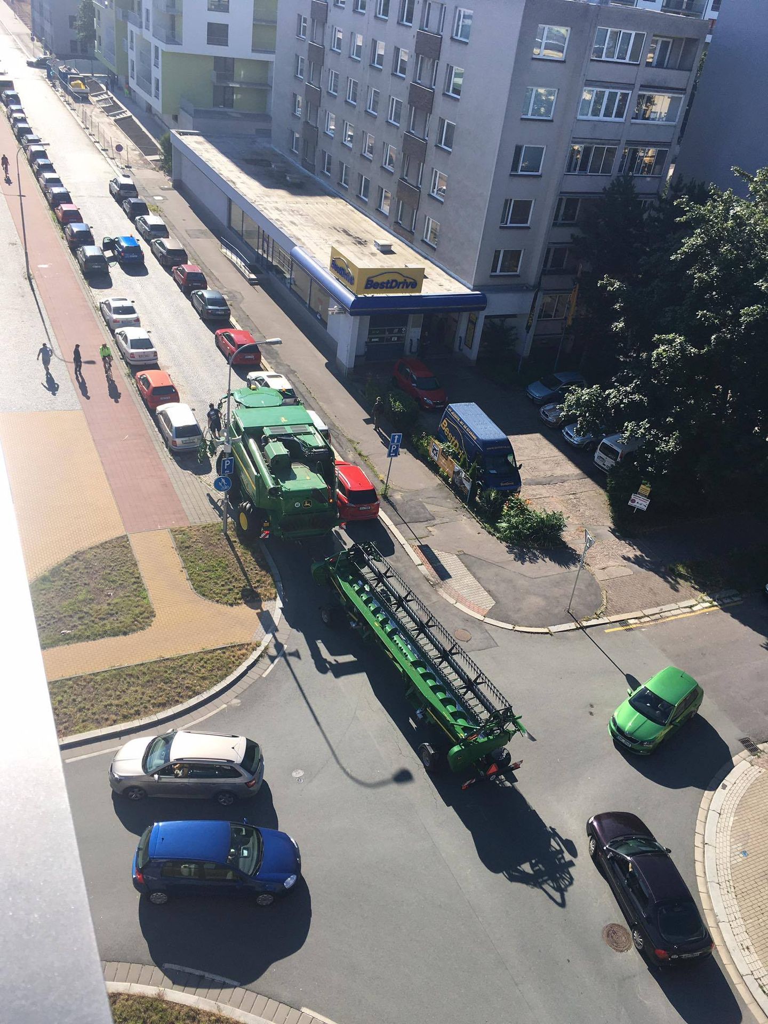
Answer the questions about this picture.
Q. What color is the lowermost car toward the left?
blue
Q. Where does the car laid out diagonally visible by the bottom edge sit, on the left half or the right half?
right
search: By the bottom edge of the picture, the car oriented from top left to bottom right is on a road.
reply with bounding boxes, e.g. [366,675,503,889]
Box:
[588,811,725,981]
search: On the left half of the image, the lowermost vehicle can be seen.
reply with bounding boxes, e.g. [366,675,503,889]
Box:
[127,812,300,902]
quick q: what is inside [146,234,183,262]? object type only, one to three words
car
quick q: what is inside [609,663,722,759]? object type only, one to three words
car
